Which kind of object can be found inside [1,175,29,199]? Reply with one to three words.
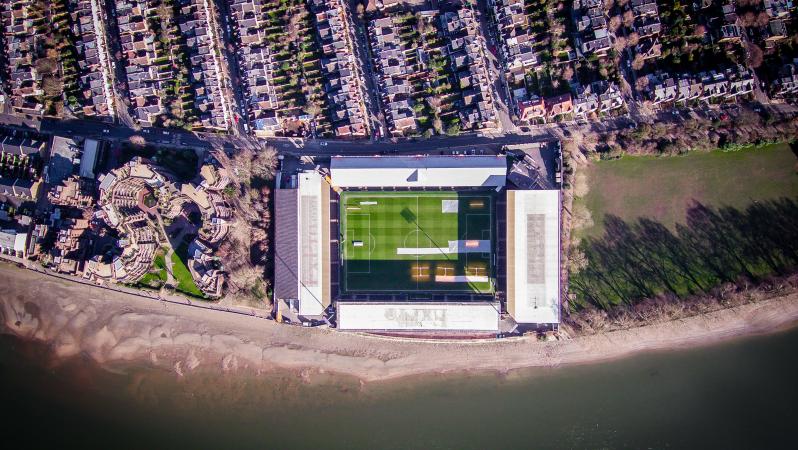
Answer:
house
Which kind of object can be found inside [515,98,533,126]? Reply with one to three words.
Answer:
house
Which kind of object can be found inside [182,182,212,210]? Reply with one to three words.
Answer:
building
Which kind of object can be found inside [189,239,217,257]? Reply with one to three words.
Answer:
building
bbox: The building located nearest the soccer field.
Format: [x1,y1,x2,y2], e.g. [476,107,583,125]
[507,161,541,190]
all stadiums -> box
[275,155,561,330]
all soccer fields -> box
[341,190,500,296]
